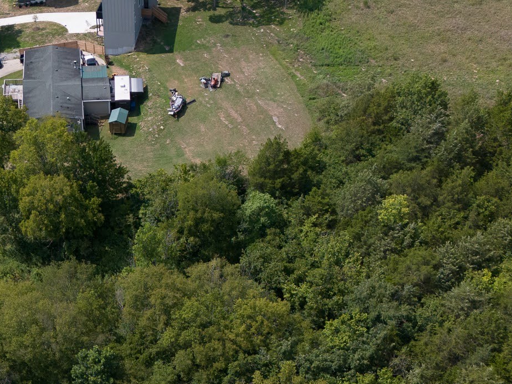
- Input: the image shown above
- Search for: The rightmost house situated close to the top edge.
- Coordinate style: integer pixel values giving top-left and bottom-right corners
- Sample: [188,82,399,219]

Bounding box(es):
[92,0,157,54]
